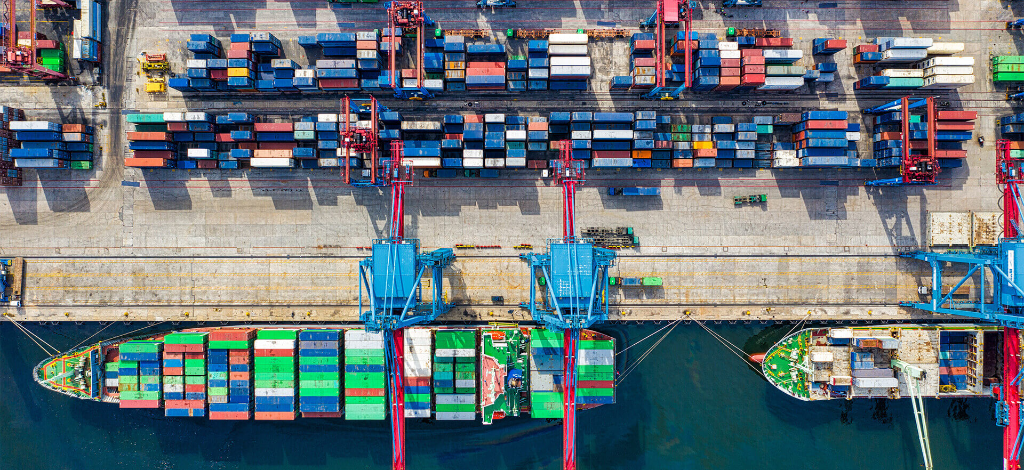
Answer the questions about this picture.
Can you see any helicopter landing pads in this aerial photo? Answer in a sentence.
No, there appears to be no helicopter landing pad in this shot.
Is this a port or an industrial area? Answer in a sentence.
The picture captures a port.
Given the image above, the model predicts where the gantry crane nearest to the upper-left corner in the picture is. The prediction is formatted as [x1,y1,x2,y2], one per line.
[4,0,82,80]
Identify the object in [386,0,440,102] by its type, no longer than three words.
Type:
container crane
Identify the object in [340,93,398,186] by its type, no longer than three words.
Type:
container crane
